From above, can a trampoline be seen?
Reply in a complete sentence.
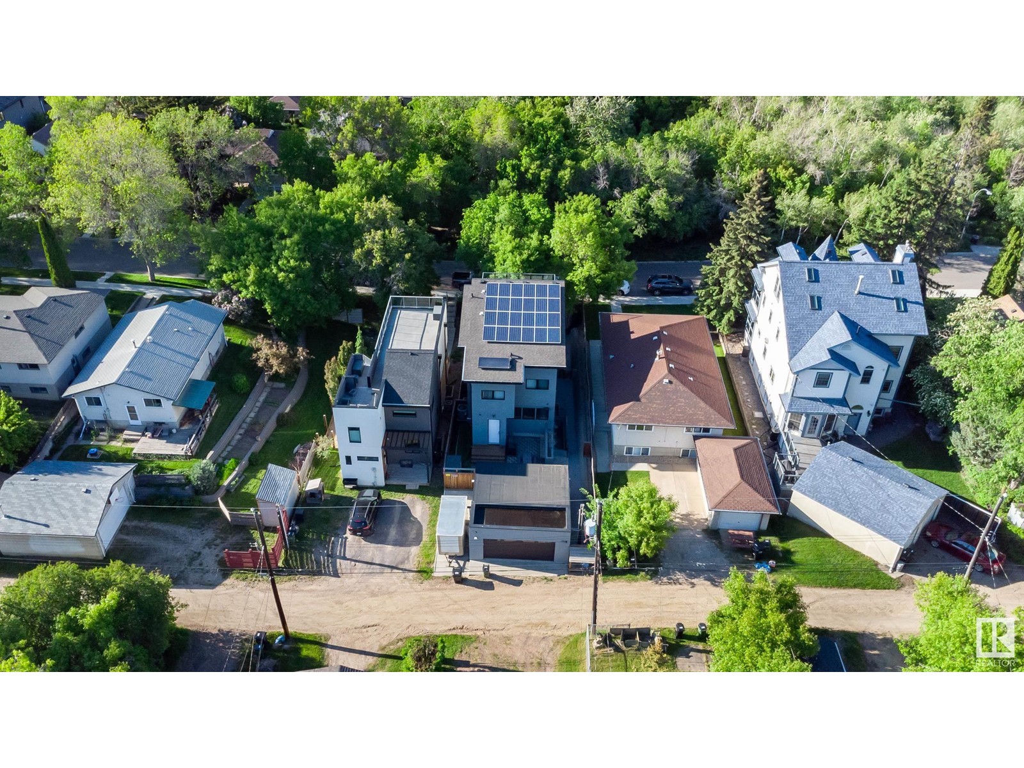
No, there appears to be no trampoline in this shot.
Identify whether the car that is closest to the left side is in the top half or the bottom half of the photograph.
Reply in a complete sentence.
The bottom half of the photo is where the car that is closest to the left side is.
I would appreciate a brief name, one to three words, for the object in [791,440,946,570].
building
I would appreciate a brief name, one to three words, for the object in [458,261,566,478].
house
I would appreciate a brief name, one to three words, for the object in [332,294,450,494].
house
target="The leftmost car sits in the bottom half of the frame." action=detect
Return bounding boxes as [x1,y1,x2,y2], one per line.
[348,481,386,532]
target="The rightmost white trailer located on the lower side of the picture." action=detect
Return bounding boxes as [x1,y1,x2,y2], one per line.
[436,495,468,572]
